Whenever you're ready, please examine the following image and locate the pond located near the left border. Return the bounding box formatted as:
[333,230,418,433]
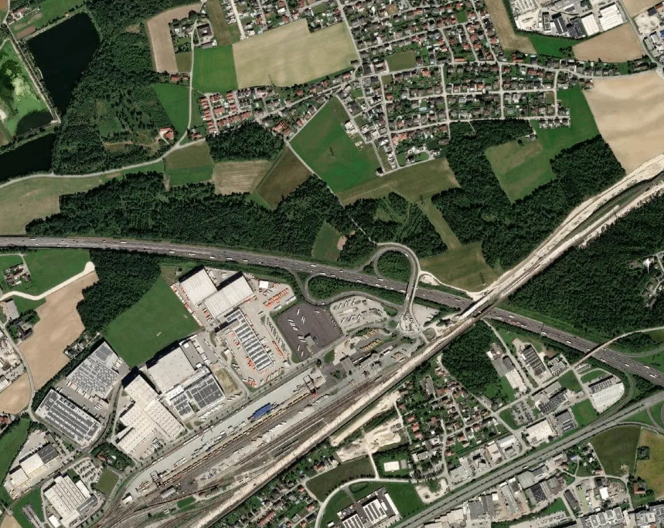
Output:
[0,41,56,136]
